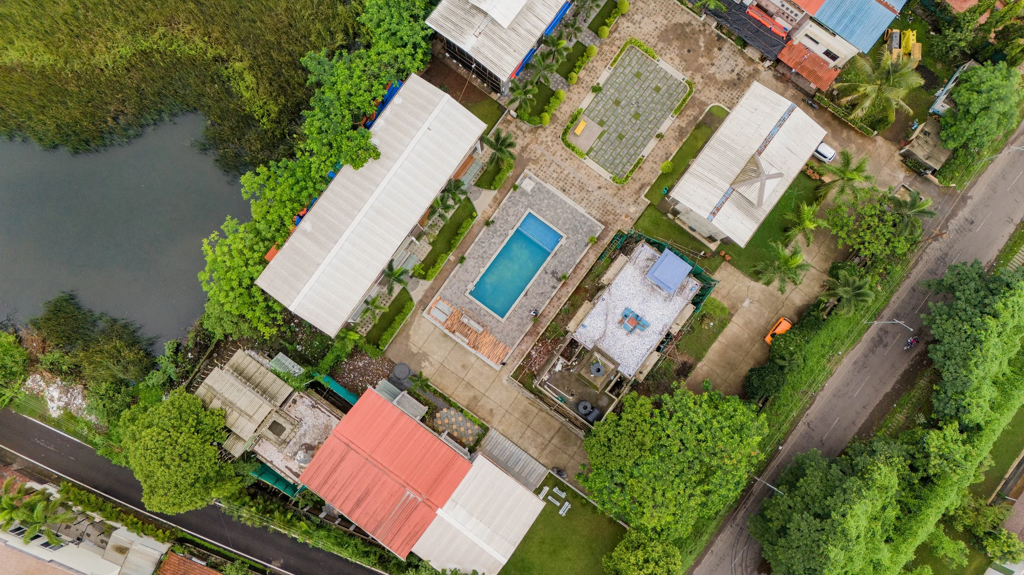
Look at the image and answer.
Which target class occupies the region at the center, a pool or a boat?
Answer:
pool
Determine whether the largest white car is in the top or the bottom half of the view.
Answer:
top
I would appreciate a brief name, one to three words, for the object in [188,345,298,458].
shed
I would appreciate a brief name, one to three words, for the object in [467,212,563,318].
swimming pool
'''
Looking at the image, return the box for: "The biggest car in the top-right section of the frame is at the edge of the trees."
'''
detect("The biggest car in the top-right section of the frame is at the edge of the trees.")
[813,140,837,163]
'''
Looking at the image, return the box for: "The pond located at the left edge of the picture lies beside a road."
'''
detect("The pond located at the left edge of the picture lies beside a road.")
[0,11,361,366]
